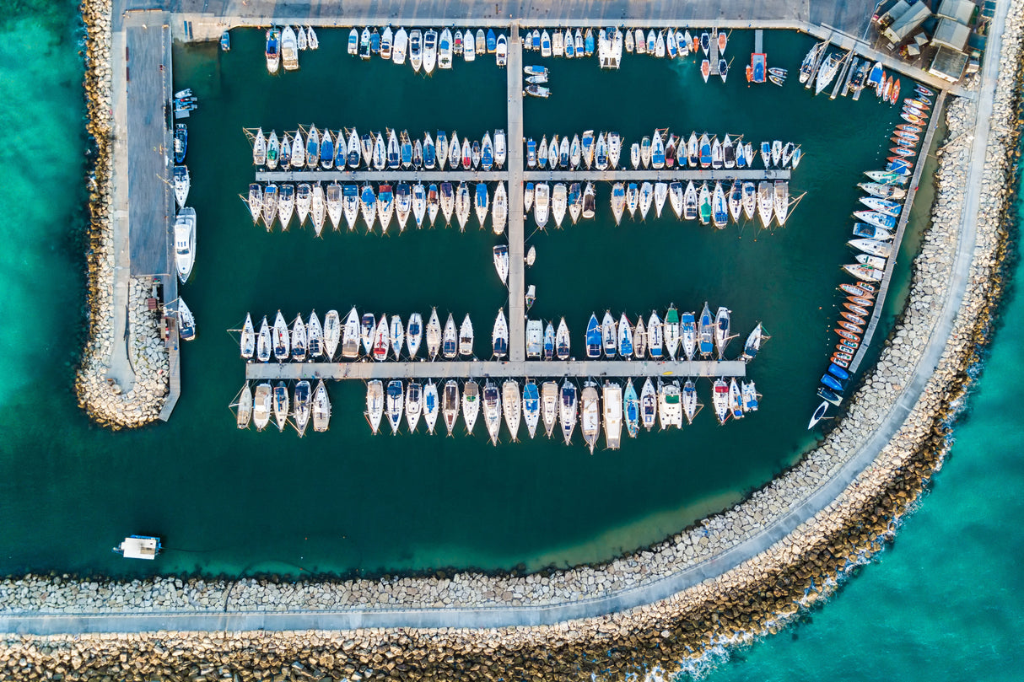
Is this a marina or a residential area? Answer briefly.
marina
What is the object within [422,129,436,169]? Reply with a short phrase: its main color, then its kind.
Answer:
blue boat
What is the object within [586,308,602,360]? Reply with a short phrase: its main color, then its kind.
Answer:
blue boat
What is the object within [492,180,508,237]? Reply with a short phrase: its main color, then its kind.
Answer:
white boat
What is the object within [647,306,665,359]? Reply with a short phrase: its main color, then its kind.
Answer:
white boat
